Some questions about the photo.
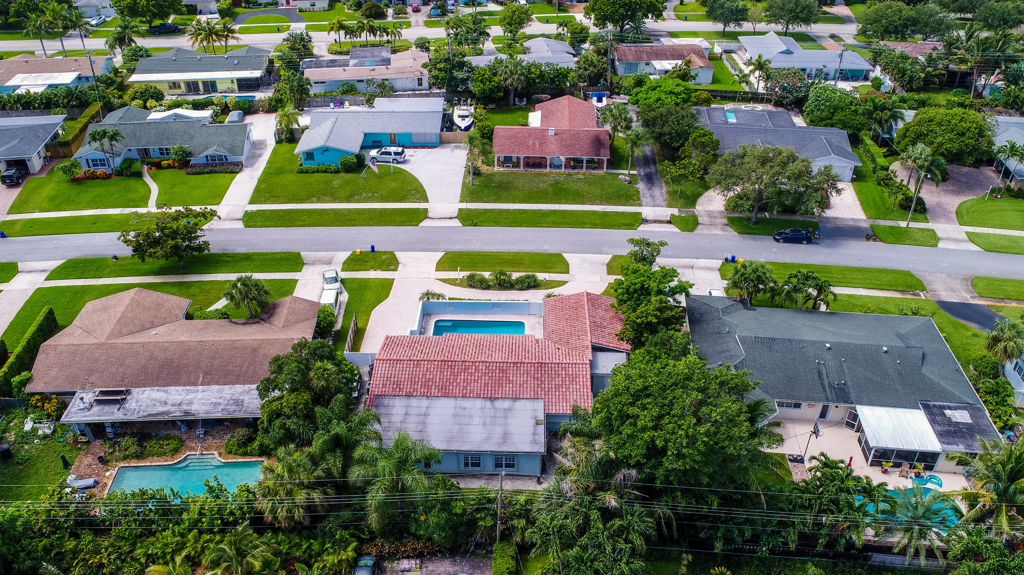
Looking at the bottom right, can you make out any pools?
Yes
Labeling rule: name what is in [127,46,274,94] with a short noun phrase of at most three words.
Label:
house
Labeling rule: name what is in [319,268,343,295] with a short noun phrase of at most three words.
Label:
car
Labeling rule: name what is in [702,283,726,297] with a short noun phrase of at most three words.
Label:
car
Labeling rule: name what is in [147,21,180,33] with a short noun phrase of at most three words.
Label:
vehicle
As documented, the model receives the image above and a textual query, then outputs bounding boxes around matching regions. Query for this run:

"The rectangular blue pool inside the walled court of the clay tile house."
[431,318,529,334]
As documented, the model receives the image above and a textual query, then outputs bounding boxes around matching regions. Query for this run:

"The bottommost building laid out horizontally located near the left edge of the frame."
[24,287,321,435]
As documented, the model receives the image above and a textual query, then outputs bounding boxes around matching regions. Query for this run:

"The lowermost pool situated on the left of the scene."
[99,450,265,516]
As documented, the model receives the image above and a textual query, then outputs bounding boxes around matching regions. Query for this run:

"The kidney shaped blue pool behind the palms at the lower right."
[848,485,968,538]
